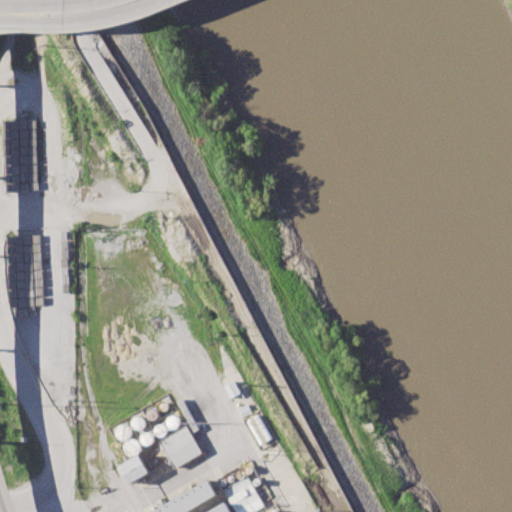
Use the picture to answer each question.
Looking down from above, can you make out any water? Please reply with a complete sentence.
Yes, some water is visible.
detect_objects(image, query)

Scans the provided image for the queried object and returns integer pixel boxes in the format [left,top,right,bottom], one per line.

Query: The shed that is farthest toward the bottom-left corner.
[118,456,148,483]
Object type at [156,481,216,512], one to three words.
building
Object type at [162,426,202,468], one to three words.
building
